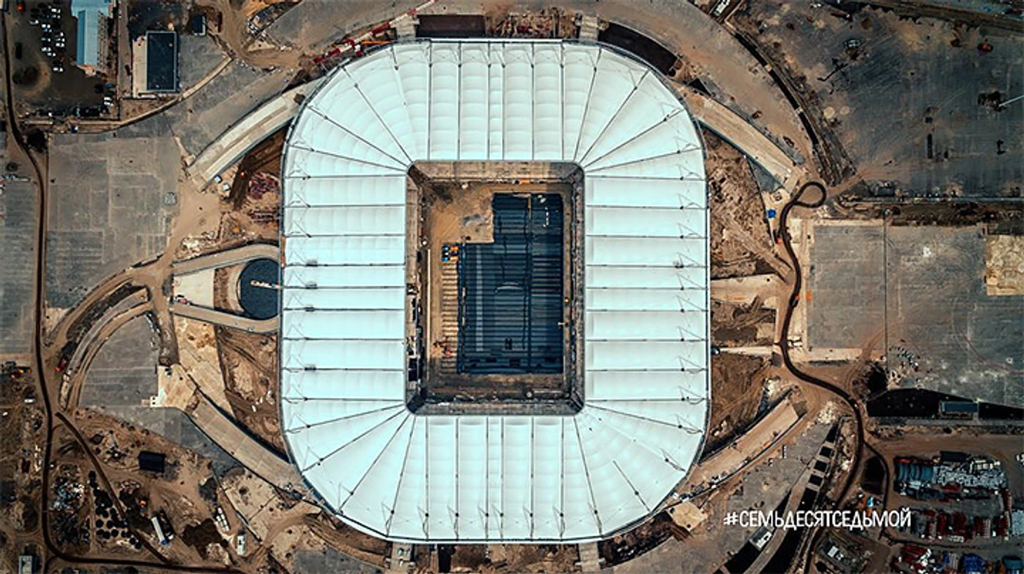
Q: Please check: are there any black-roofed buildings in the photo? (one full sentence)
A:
Yes, looking at the shot, I can spot a black-roofed building.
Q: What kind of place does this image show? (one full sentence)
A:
This image shows a sports ground.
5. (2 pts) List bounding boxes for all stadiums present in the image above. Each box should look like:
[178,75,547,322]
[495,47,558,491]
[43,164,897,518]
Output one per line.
[280,39,710,545]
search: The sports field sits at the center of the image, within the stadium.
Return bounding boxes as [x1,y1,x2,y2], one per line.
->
[458,193,564,374]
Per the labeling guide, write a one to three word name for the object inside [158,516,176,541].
vehicle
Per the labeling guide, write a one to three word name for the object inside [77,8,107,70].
building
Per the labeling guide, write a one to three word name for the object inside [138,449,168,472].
shed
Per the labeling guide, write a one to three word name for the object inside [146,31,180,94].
building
